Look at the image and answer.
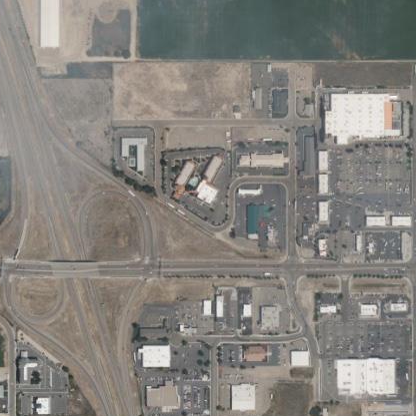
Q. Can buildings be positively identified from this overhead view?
Yes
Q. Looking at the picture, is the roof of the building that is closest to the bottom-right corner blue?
No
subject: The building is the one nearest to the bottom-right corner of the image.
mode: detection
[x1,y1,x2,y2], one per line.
[367,358,396,396]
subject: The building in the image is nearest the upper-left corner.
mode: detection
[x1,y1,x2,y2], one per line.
[41,0,60,48]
